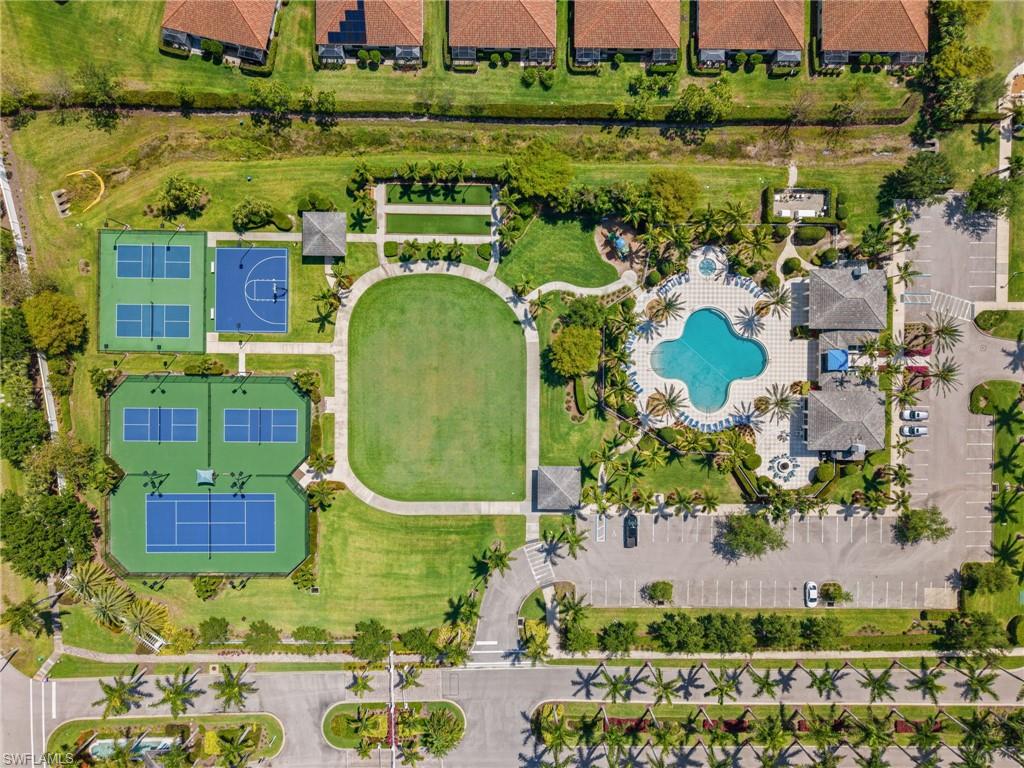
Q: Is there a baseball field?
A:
No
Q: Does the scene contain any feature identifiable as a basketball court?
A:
Yes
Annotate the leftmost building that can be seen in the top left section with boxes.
[159,0,279,72]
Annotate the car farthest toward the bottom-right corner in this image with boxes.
[804,582,817,607]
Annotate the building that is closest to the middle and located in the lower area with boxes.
[538,466,581,509]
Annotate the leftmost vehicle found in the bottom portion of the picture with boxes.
[624,514,637,547]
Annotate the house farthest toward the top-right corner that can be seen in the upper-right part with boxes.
[818,0,928,76]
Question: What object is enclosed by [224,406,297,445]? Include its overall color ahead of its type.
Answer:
blue sports court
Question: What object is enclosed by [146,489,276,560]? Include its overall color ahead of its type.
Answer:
blue tennis court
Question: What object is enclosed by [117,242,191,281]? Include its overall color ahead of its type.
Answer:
blue sports court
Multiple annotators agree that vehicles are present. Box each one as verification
[899,409,928,421]
[899,425,928,437]
[624,514,637,547]
[804,582,817,607]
